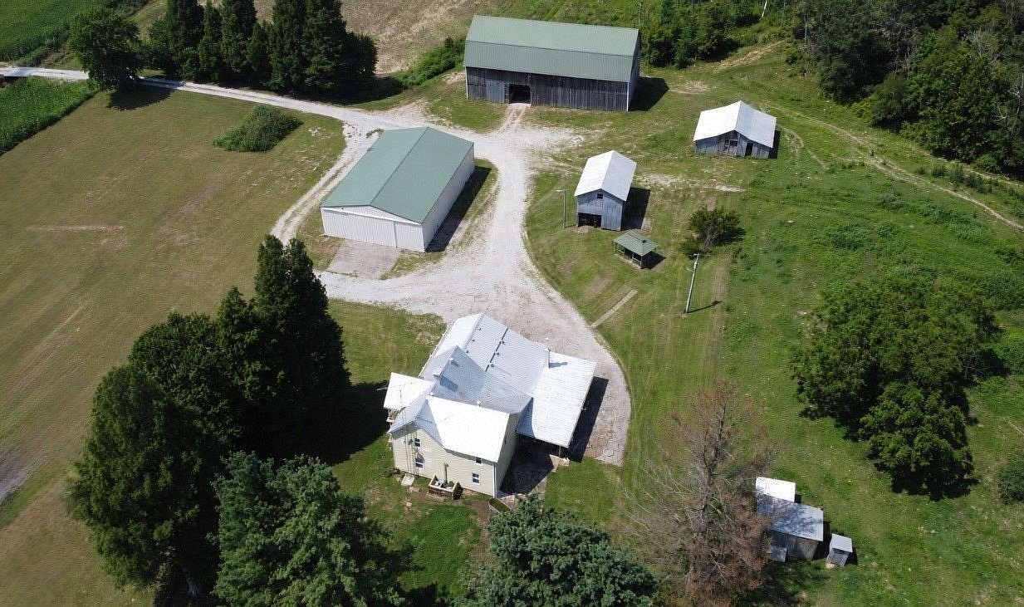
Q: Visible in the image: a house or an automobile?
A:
house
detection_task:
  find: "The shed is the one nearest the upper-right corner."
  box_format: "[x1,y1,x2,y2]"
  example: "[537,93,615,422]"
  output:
[695,101,774,159]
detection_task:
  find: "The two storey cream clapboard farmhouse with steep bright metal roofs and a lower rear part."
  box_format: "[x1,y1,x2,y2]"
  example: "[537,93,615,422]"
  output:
[377,313,599,494]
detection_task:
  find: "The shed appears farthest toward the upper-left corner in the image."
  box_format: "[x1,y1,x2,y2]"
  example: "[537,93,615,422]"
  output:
[318,125,476,251]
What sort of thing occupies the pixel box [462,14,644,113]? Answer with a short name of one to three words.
barn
